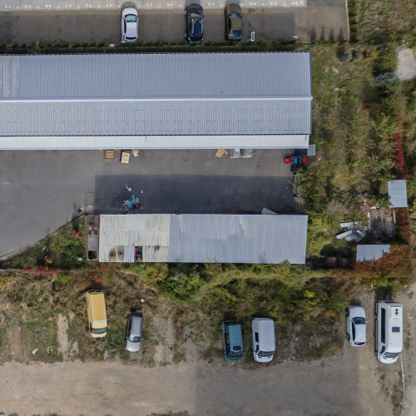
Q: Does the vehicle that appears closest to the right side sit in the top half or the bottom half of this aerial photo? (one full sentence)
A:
Seen from above, the vehicle that appears closest to the right side lies in the bottom half of the view.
